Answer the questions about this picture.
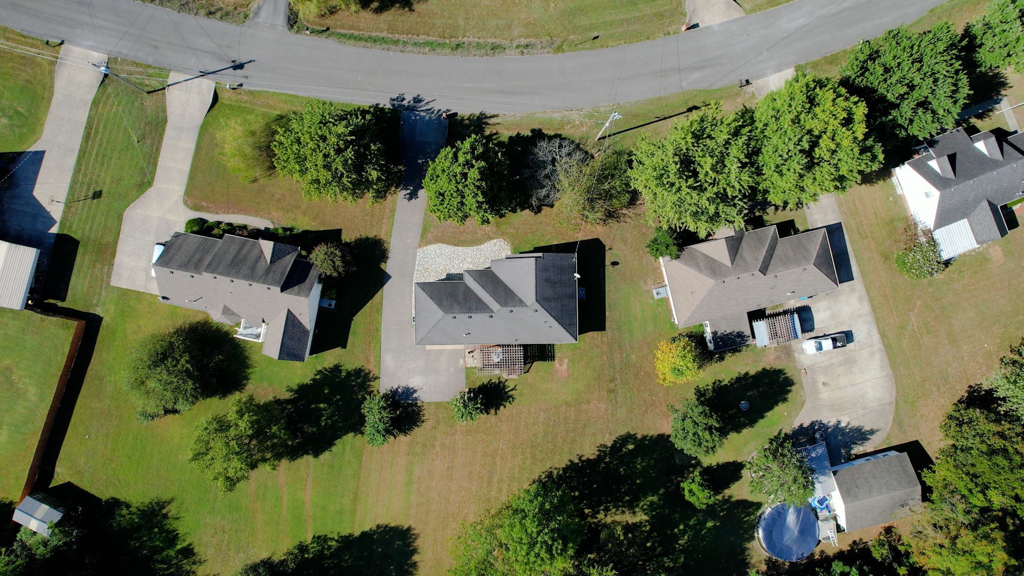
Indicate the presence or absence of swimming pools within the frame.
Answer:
Yes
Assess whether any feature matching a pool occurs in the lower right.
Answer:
Yes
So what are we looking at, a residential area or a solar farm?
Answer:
residential area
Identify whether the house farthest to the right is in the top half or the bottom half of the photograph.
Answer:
top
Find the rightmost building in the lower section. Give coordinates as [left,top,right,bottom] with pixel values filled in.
[830,449,922,533]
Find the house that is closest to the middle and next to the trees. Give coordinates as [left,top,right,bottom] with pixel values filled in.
[414,253,580,345]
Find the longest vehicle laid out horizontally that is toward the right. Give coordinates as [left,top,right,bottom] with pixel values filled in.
[801,332,848,354]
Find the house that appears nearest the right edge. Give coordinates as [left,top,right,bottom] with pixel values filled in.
[891,104,1024,260]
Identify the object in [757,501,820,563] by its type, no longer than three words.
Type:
swimming pool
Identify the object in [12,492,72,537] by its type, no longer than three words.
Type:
shed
